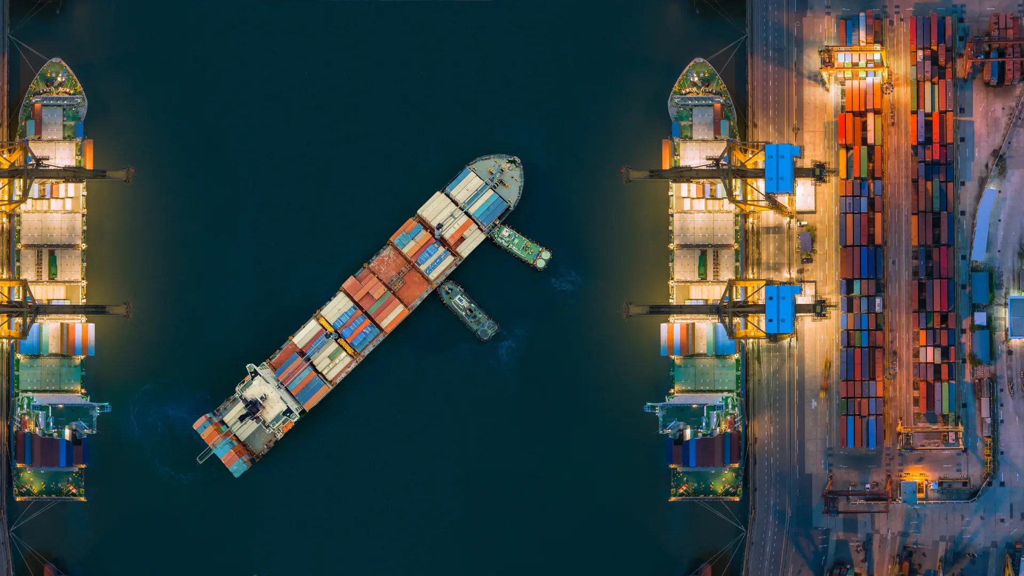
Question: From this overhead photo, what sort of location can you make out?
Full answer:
This looks like a port.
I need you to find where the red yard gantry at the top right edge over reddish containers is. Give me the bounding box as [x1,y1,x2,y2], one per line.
[964,39,1024,86]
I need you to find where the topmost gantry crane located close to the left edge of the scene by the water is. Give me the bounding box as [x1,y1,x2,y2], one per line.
[0,139,134,223]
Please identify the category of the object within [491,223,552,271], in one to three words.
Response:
boat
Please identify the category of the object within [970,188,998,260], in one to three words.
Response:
shed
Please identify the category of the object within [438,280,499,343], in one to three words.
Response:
boat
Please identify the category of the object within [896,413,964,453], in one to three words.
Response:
container crane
